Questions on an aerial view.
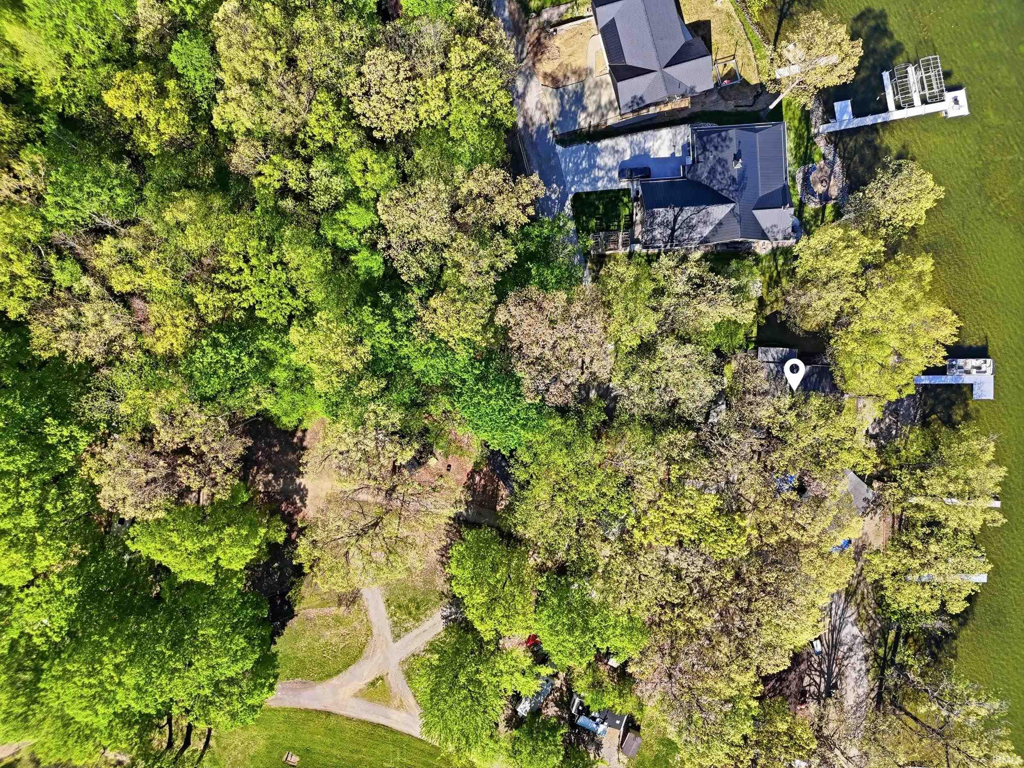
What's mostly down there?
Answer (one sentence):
The scene is dominated by trees.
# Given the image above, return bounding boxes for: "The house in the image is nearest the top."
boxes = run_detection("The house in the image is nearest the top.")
[593,0,713,120]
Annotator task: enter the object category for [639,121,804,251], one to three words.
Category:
house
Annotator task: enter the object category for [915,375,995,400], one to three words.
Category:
pier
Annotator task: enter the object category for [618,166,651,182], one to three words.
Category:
car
